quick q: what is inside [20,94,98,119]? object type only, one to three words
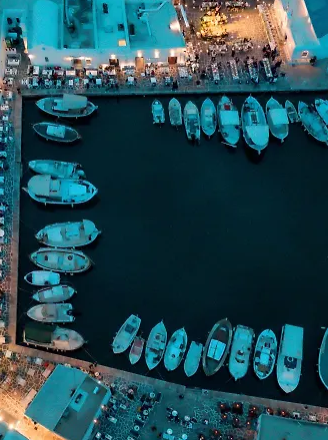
boat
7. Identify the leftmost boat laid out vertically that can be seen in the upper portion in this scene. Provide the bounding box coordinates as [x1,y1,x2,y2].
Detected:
[151,93,164,126]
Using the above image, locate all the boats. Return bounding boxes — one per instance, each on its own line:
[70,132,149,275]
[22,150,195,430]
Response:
[151,93,164,126]
[19,158,83,179]
[180,340,202,387]
[20,304,73,325]
[167,93,182,129]
[240,93,269,153]
[275,324,304,403]
[111,314,141,371]
[251,329,276,400]
[290,90,328,146]
[315,327,328,407]
[180,92,201,143]
[226,324,255,387]
[215,92,241,148]
[20,175,98,207]
[28,248,95,276]
[22,325,96,363]
[18,220,101,250]
[20,120,81,142]
[20,94,98,119]
[264,93,289,141]
[200,96,216,138]
[163,327,189,372]
[144,321,167,376]
[306,90,328,128]
[122,333,145,376]
[18,270,60,287]
[277,90,299,125]
[18,286,77,304]
[197,318,234,390]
